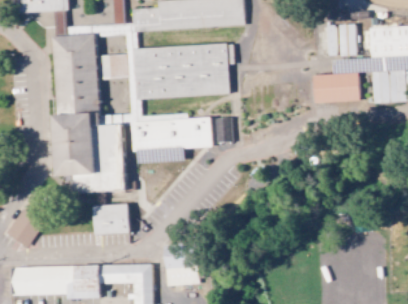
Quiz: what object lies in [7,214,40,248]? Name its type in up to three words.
building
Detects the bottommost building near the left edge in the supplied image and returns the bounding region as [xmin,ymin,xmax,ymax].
[11,265,100,299]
